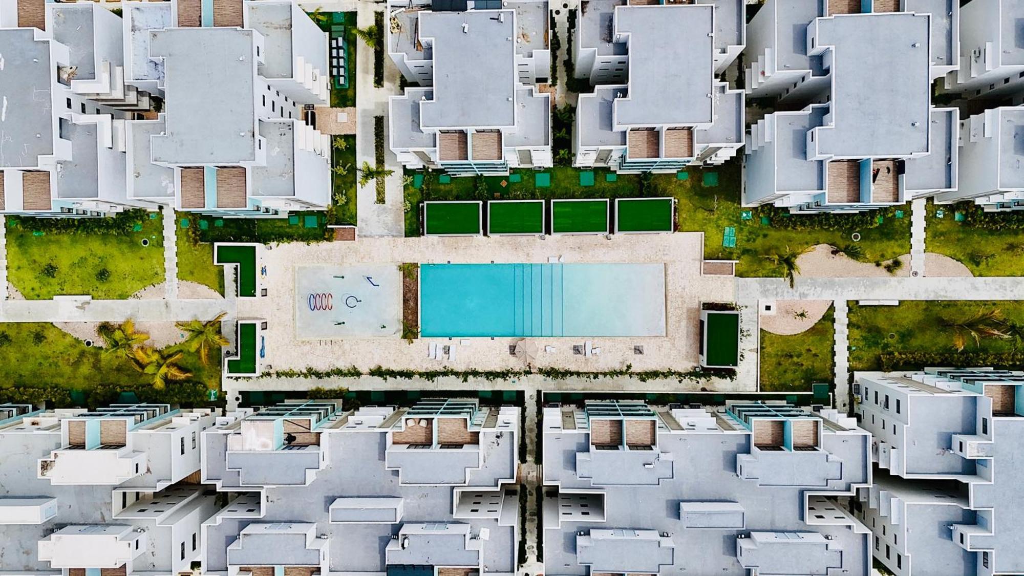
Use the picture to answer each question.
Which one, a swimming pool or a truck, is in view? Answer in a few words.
swimming pool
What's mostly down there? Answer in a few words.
buildings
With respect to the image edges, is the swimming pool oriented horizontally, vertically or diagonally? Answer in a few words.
horizontally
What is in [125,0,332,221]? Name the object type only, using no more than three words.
building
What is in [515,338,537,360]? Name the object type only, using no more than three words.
umbrella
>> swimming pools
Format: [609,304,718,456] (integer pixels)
[419,261,667,338]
